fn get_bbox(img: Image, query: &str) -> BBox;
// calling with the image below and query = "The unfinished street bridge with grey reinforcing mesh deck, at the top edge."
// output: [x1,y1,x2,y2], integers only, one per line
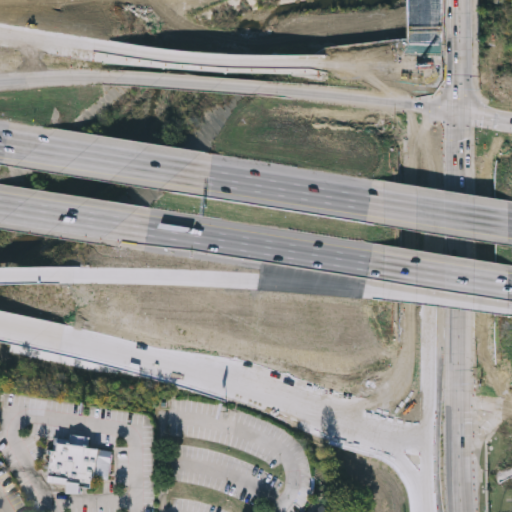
[404,0,442,54]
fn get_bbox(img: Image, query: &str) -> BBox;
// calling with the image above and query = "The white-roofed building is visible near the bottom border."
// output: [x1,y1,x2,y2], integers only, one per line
[46,435,112,494]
